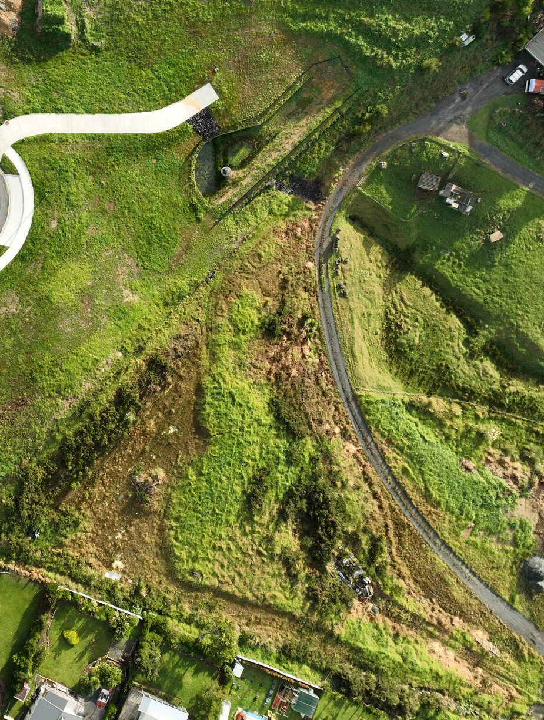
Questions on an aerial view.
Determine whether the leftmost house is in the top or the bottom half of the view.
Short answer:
bottom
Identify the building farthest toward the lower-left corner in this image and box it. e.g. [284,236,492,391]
[34,681,85,720]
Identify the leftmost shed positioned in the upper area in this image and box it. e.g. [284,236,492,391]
[417,172,442,189]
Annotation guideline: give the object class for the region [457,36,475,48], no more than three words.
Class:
boat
